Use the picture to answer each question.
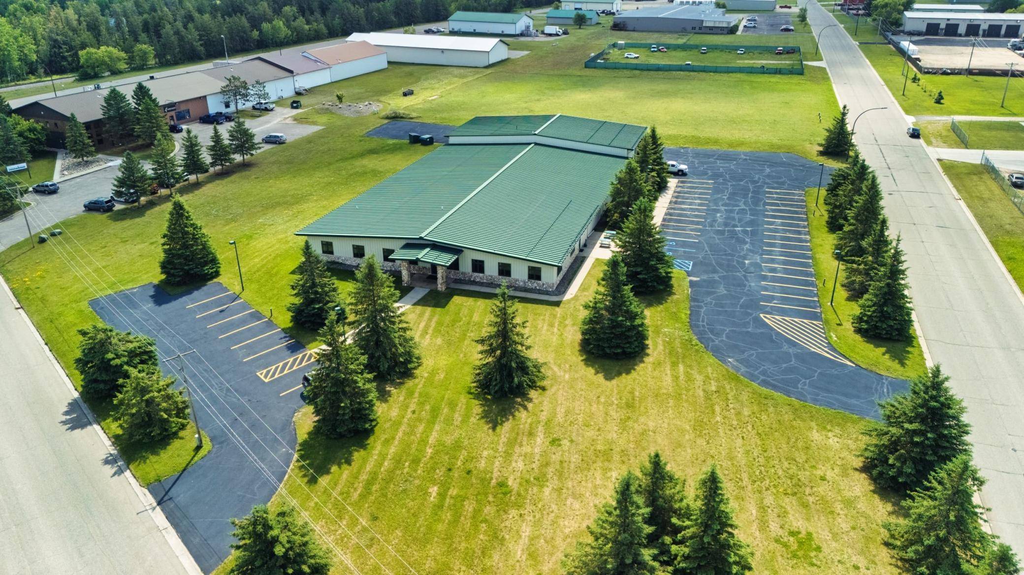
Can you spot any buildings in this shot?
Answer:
Yes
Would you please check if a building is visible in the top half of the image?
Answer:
Yes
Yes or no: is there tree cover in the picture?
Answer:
Yes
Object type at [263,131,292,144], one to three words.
vehicle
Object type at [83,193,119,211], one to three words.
car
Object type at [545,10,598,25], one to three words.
shed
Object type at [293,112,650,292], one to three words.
building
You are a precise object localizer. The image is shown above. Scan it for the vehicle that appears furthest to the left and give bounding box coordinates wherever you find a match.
[31,177,64,193]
